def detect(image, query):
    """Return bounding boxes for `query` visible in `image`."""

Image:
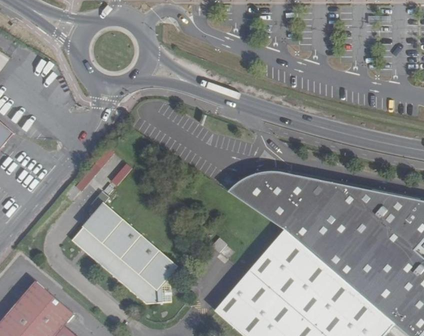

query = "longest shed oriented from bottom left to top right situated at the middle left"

[76,150,115,191]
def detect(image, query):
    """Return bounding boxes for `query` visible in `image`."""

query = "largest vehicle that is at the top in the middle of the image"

[201,80,243,100]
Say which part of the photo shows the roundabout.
top left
